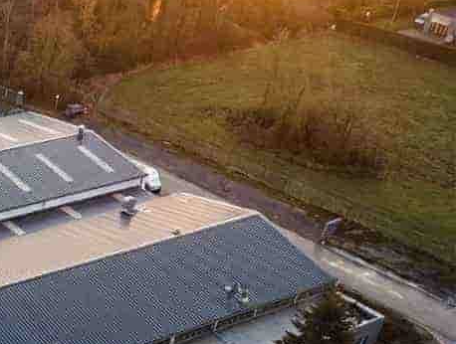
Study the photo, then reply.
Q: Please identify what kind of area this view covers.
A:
industrial area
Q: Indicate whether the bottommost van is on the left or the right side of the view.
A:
left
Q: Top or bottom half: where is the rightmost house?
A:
top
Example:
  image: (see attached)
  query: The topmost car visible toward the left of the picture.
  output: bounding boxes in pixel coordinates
[61,100,90,118]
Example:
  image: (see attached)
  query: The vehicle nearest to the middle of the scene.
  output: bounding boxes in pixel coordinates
[141,162,176,195]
